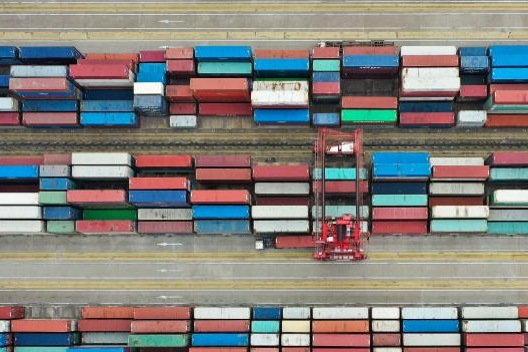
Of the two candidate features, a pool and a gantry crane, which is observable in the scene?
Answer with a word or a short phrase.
gantry crane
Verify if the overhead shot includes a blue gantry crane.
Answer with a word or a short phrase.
No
